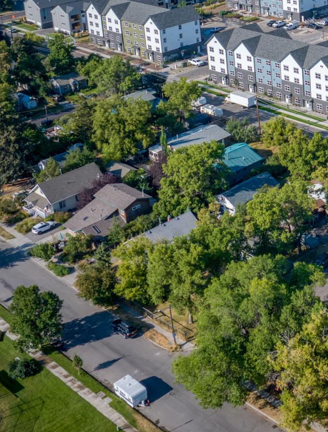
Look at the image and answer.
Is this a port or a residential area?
residential area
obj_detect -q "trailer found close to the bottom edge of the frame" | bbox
[111,370,150,414]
